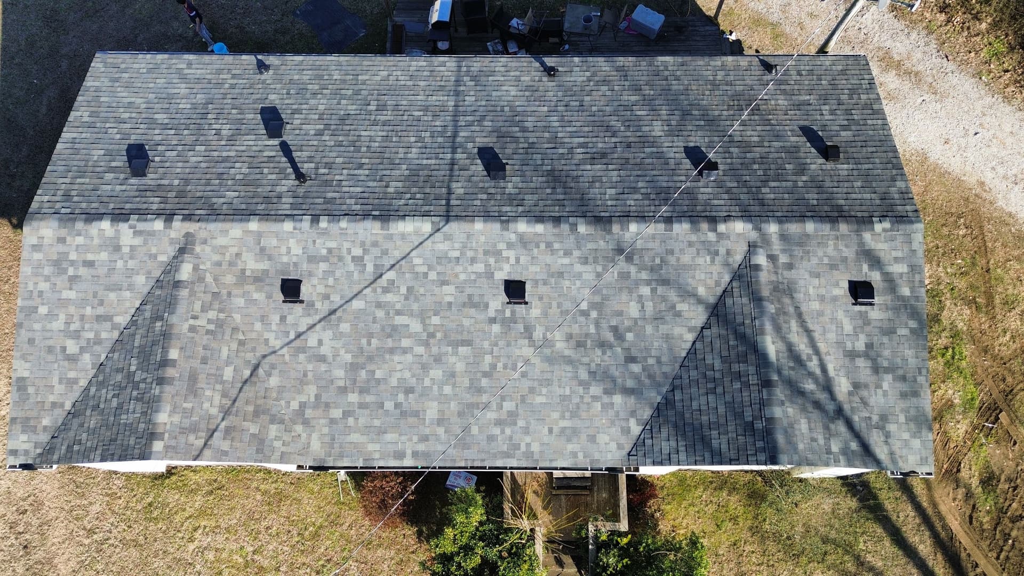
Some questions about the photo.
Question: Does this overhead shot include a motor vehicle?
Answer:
No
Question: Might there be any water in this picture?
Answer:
No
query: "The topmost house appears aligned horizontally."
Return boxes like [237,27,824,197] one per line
[6,53,934,484]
